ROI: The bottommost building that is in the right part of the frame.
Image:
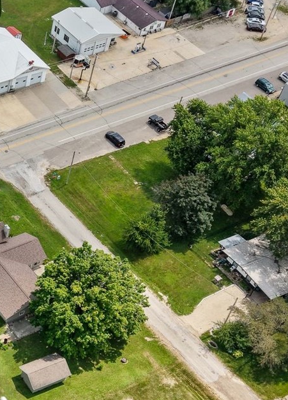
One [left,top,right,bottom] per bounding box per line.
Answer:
[217,231,288,308]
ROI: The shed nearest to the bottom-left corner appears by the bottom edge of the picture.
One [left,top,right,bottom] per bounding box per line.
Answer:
[20,354,70,395]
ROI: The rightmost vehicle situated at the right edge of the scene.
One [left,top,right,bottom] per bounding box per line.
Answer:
[275,68,288,82]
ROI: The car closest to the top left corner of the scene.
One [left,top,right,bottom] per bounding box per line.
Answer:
[104,132,127,147]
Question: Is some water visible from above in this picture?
No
